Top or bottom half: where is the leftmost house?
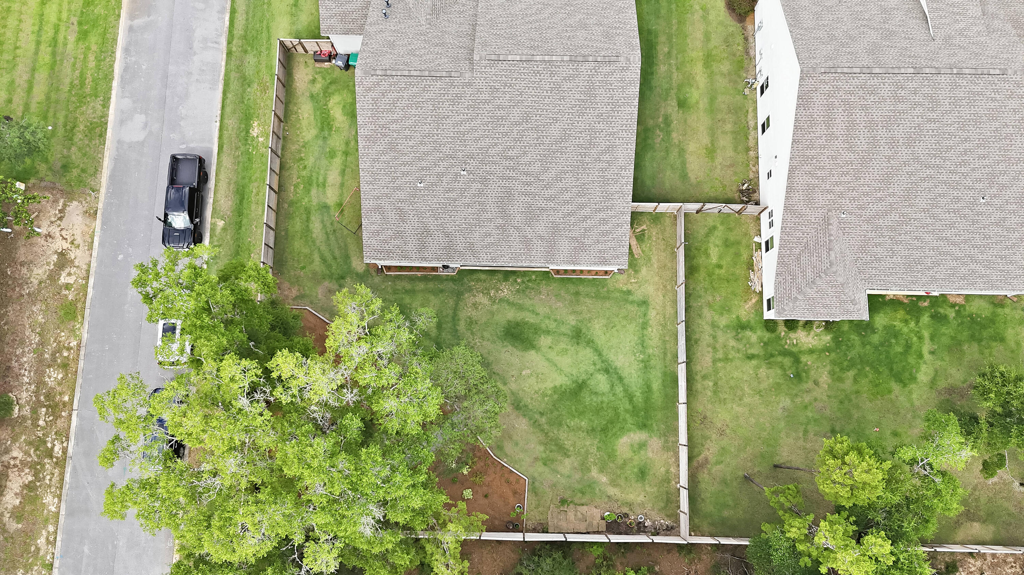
top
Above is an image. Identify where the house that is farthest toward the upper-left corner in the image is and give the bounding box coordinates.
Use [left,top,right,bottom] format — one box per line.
[318,0,642,276]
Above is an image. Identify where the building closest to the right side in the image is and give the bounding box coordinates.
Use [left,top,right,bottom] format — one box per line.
[753,0,1024,323]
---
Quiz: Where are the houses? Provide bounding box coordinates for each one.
[318,0,642,276]
[753,0,1024,323]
